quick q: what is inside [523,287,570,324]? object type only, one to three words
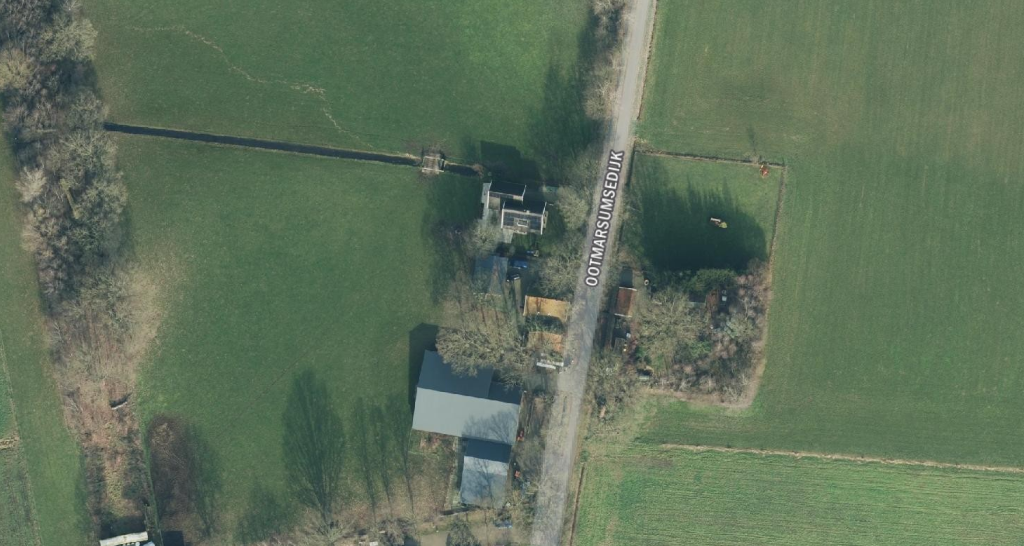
house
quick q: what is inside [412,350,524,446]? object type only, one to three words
barn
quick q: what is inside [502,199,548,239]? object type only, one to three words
house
